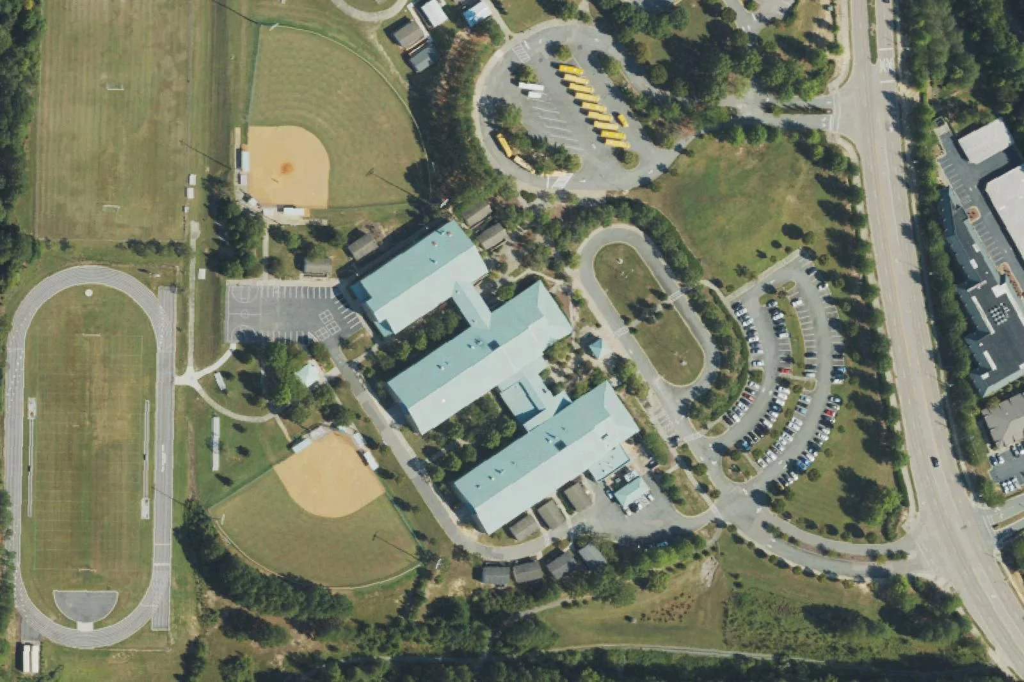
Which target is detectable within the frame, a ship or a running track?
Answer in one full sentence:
Visible in the photo is a running track.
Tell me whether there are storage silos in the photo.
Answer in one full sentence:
No, I can't see a single storage silo in this photo.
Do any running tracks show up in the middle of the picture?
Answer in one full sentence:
No, there's no running track to be seen in the middle of the picture.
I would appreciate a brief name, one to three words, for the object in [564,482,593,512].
building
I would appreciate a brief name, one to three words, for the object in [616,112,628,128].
vehicle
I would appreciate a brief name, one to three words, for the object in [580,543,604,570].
building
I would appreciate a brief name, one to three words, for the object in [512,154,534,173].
vehicle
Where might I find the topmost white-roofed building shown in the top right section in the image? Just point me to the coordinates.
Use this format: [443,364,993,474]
[951,118,1011,164]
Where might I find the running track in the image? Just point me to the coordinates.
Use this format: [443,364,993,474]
[4,266,158,647]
